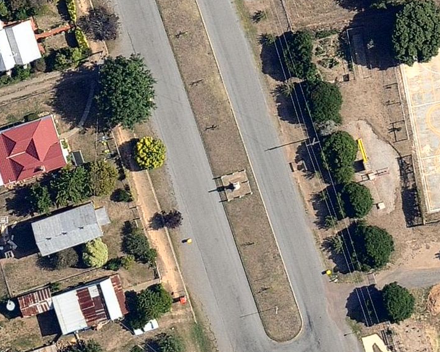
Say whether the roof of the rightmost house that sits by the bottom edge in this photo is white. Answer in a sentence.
Yes, the roof of the rightmost house that sits by the bottom edge is indeed white.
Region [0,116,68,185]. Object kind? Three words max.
house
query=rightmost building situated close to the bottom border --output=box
[52,276,129,335]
